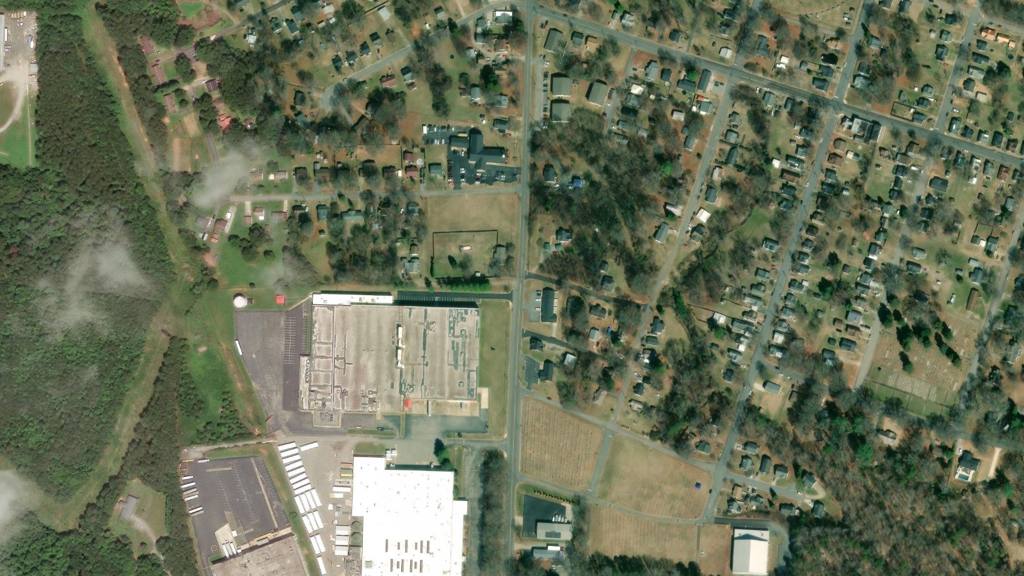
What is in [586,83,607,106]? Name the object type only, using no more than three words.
building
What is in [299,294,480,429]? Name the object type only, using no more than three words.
warehouse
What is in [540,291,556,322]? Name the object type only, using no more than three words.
house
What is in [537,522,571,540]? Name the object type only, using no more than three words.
house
